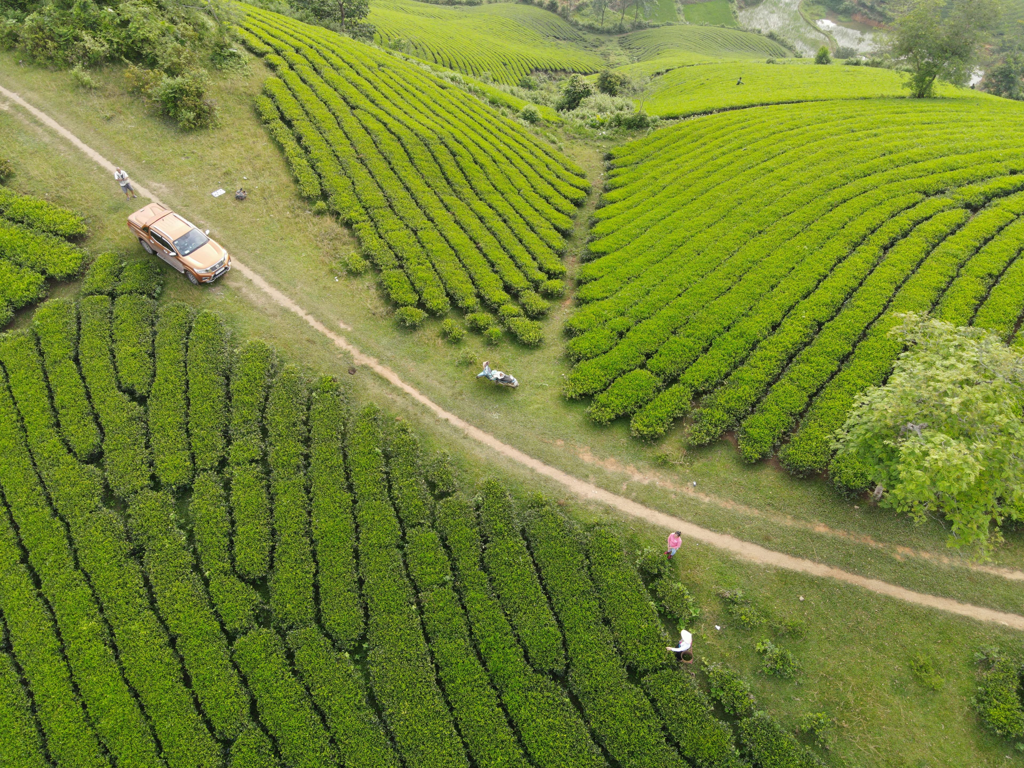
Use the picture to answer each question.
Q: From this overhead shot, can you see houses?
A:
No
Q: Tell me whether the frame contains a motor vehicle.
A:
Yes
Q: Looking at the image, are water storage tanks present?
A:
No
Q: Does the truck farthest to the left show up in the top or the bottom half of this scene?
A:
top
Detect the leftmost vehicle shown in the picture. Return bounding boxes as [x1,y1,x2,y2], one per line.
[127,207,234,285]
